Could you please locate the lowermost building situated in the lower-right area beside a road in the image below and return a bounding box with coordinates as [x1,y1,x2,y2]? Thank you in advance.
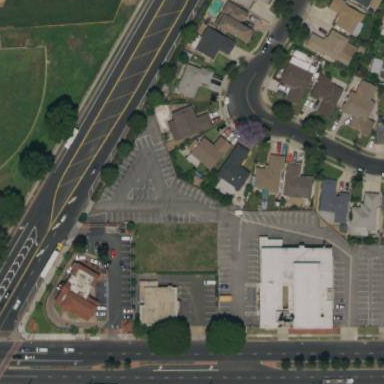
[257,236,334,328]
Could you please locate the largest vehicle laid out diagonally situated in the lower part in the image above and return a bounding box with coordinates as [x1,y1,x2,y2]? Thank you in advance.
[38,244,63,280]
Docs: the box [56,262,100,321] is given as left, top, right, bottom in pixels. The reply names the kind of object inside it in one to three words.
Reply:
building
